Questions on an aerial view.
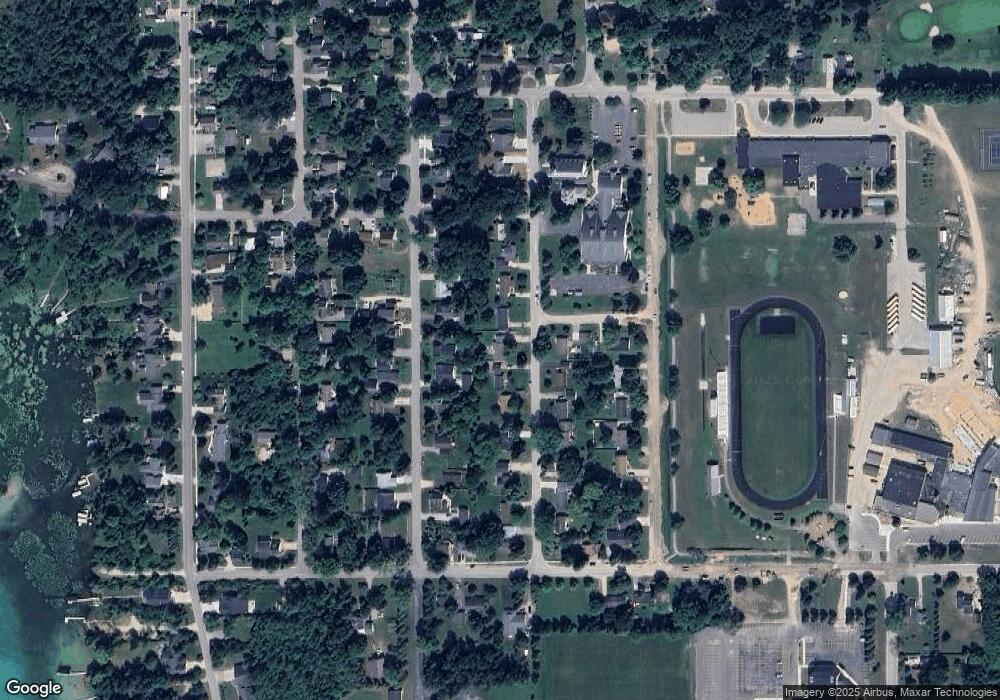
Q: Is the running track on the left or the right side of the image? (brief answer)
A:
right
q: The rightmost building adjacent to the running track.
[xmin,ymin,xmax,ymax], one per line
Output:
[871,423,1000,522]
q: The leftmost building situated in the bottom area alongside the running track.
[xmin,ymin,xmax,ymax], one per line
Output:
[706,464,721,496]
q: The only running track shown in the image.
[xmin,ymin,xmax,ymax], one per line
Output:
[729,296,827,511]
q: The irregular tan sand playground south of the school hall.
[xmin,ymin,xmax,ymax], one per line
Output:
[714,176,775,226]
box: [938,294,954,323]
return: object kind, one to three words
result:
building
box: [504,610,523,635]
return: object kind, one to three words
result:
house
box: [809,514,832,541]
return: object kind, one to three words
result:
playground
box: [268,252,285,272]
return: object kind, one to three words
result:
house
